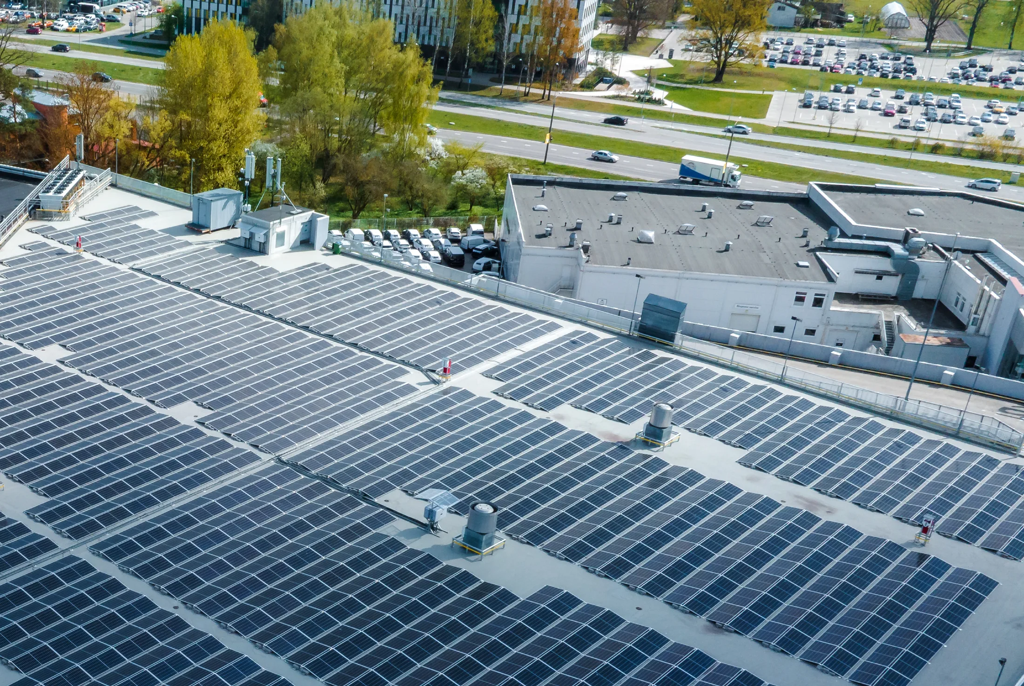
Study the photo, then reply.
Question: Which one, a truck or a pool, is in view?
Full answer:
It is a truck that can be seen here.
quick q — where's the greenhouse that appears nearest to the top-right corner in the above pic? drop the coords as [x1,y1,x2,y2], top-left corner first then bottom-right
[881,0,910,28]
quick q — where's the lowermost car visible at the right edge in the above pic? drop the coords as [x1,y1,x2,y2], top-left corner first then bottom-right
[966,178,1003,192]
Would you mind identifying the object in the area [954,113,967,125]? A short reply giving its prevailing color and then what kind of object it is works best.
white vehicle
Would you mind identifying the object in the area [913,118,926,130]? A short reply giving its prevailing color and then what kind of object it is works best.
white vehicle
